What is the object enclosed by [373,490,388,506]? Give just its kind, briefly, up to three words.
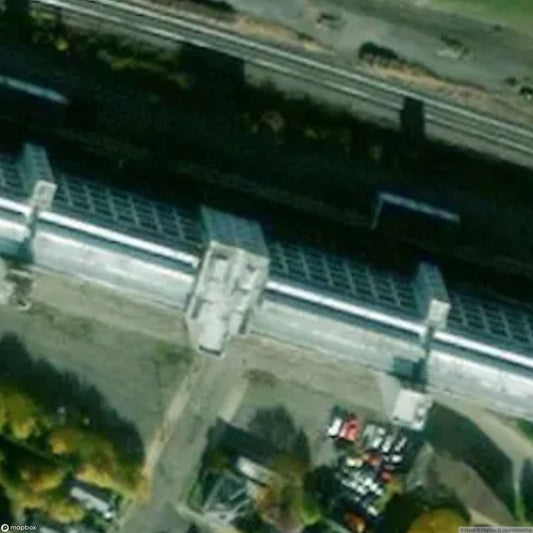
car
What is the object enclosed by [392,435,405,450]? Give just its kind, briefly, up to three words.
vehicle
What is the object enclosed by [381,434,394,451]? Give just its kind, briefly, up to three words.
vehicle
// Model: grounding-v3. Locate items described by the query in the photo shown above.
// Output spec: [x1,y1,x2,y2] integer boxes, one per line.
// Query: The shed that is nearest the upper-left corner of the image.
[0,76,68,136]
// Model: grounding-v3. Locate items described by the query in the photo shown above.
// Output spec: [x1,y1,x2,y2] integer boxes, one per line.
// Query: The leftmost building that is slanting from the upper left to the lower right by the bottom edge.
[67,471,117,513]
